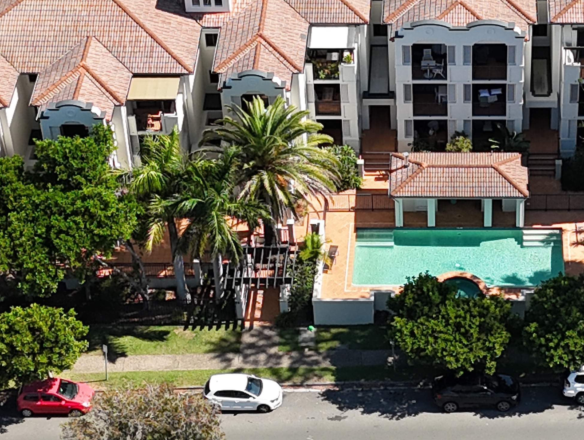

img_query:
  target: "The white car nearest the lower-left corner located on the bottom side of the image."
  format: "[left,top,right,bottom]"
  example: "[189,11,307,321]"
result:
[195,370,282,412]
